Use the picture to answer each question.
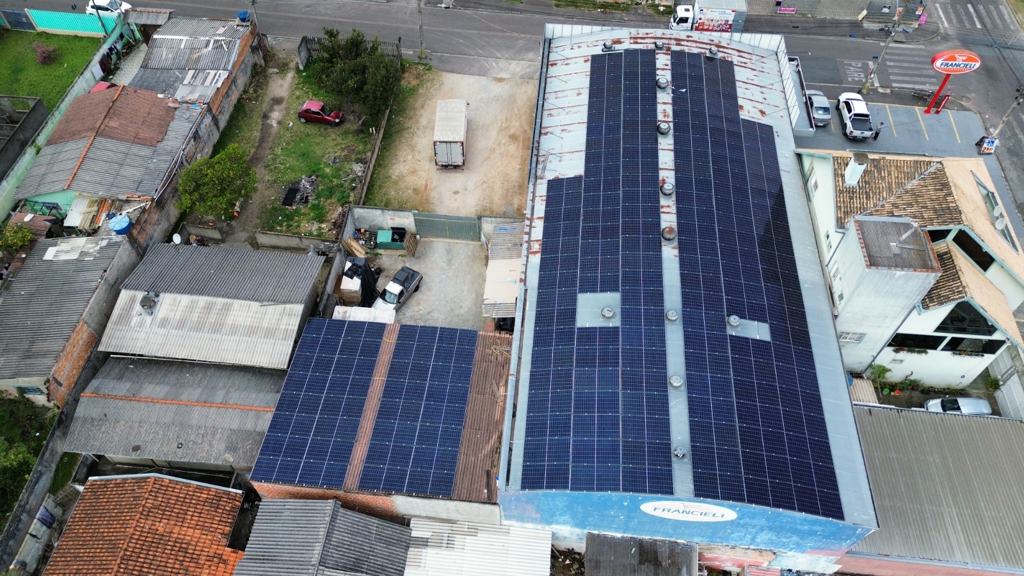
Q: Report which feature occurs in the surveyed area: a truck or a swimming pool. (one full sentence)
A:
Of the two, only a truck appears.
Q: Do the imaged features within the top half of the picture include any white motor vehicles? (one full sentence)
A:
Yes, a white motor vehicle shows up within the top half of the picture.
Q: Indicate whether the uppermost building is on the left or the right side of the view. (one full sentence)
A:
The uppermost building appears in the left half of the scene.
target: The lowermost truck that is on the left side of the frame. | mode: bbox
[372,263,427,319]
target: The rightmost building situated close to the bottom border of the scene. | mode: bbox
[827,406,1024,576]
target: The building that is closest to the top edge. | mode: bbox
[128,17,249,123]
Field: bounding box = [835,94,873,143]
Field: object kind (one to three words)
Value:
truck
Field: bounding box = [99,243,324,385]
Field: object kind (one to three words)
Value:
house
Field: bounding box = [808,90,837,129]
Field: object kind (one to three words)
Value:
car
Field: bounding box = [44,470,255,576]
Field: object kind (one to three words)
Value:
house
